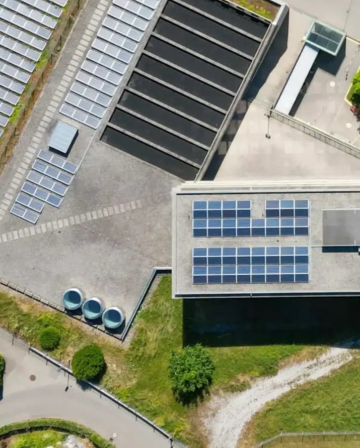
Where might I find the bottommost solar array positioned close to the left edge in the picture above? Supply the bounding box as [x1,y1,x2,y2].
[8,150,78,223]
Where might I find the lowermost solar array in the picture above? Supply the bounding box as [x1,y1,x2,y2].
[191,246,307,283]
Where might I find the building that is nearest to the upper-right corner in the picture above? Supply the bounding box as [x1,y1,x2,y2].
[302,20,348,58]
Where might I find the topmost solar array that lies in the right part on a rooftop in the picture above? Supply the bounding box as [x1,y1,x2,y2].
[191,199,308,237]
